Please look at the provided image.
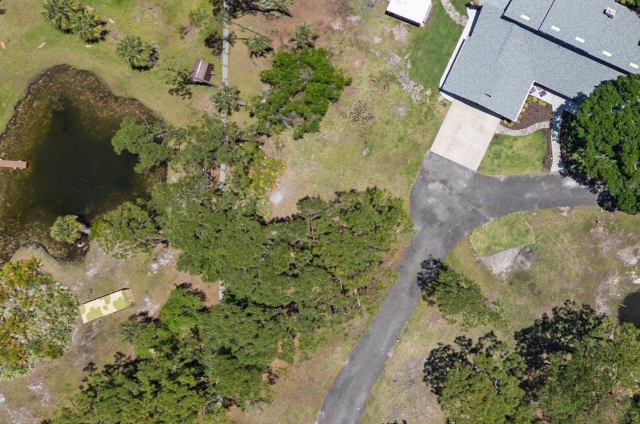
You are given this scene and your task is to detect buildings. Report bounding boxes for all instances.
[385,0,434,30]
[190,59,219,80]
[442,0,640,122]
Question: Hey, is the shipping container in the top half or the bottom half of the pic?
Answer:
bottom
